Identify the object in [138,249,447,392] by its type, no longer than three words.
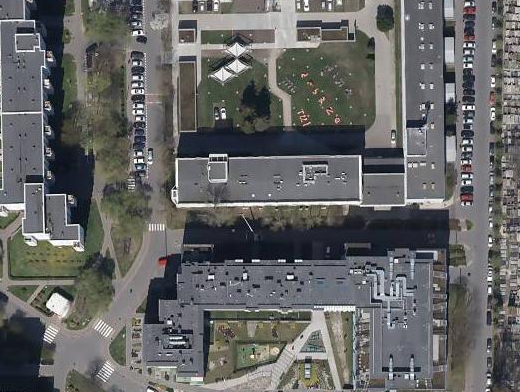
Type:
building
